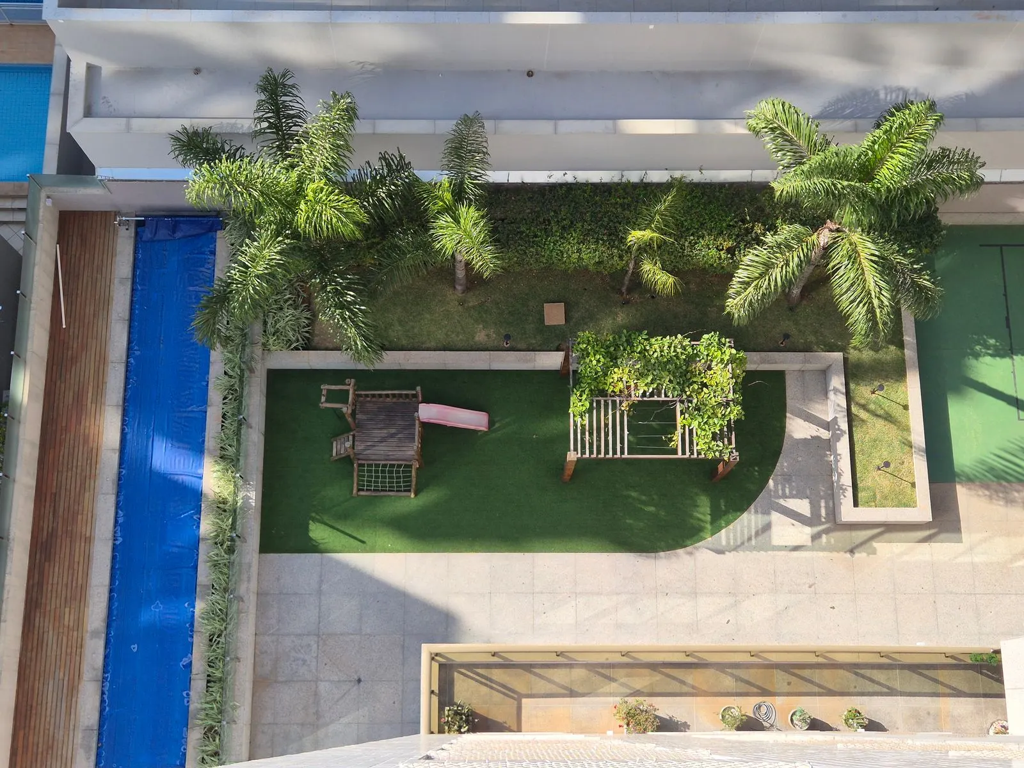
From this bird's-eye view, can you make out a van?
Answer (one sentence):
No, the scene contains no van.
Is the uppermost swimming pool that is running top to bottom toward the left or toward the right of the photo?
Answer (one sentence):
The uppermost swimming pool that is running top to bottom is on the left side of the image.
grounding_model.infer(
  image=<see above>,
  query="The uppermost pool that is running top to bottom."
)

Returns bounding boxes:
[0,64,53,183]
